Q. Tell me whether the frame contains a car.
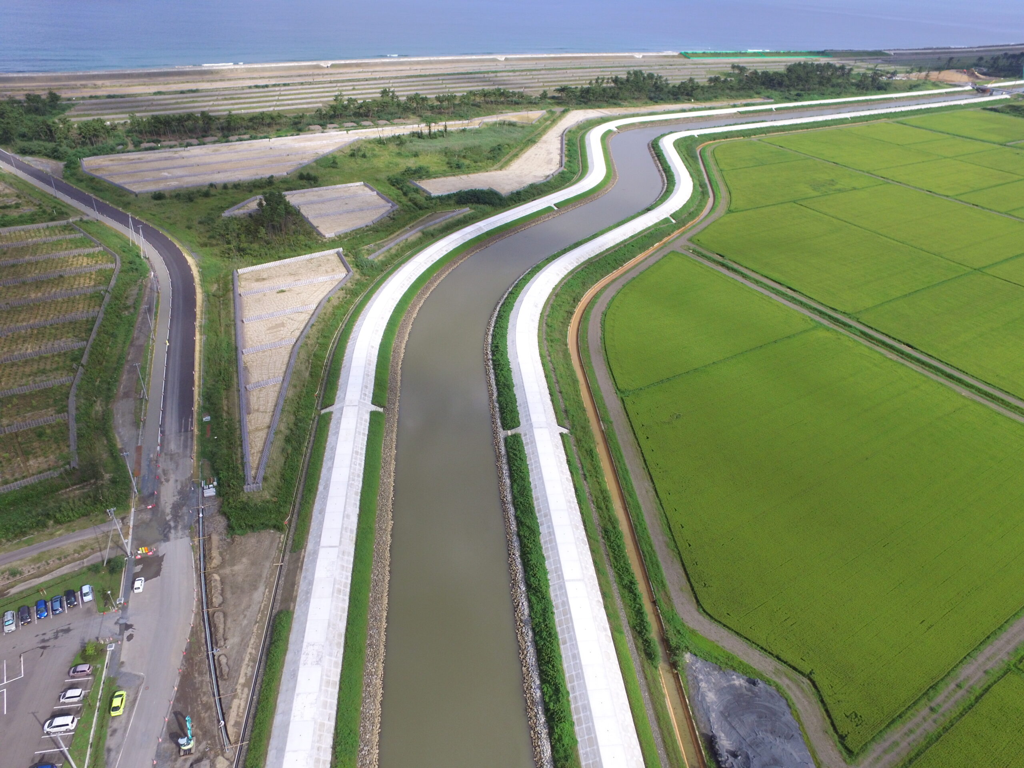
Yes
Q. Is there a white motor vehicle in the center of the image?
No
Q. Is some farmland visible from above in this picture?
Yes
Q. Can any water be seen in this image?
Yes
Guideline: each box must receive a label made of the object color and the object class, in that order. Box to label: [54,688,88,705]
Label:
white car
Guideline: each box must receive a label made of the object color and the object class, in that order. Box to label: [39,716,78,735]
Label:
white car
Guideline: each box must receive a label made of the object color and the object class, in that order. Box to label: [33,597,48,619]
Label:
blue car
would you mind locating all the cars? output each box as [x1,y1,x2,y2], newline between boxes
[65,663,95,679]
[54,688,88,705]
[39,716,78,735]
[33,597,48,619]
[108,688,127,717]
[133,575,146,592]
[17,604,31,625]
[48,593,63,615]
[64,587,77,607]
[79,579,93,602]
[0,608,16,633]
